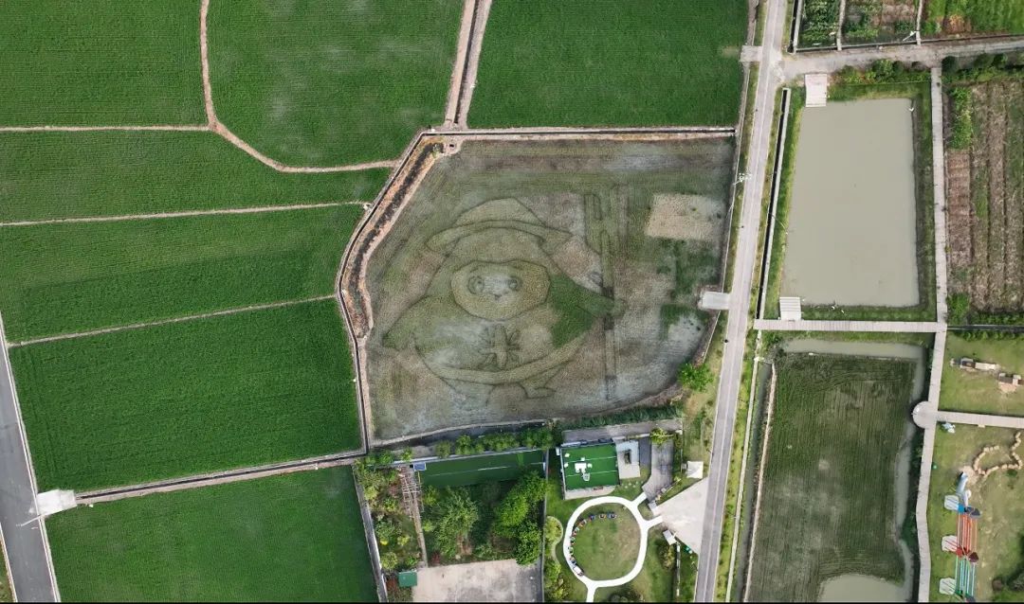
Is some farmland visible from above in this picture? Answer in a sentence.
Yes, farmland can be seen from above here.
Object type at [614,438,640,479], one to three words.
building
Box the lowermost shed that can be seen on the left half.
[399,567,419,588]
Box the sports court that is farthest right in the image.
[563,443,618,489]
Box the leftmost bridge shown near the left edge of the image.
[37,490,77,518]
